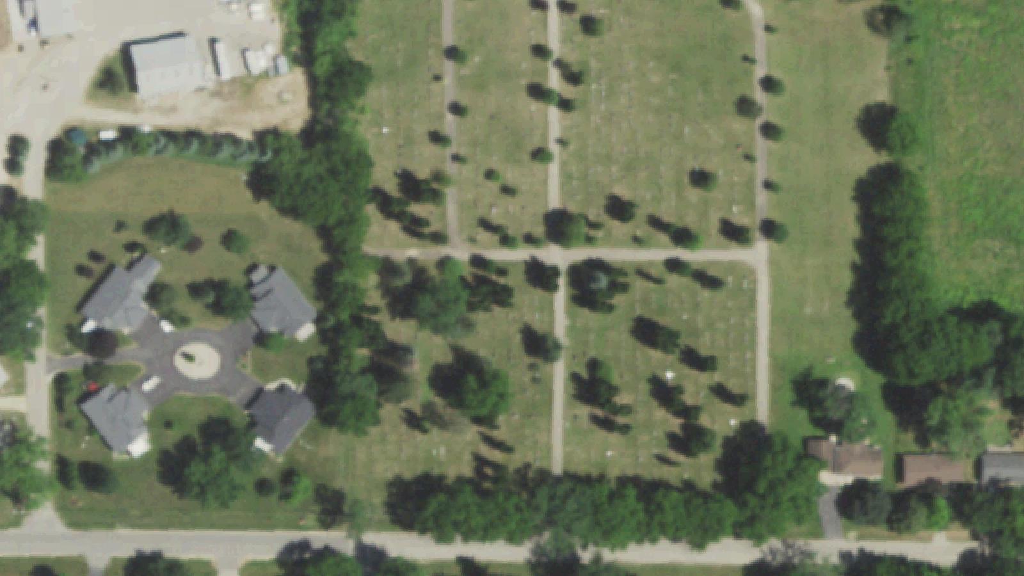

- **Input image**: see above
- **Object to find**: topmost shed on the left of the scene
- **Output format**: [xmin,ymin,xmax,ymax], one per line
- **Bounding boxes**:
[36,0,87,35]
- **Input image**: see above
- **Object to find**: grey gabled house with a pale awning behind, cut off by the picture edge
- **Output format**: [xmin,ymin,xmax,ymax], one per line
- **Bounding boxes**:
[980,446,1024,483]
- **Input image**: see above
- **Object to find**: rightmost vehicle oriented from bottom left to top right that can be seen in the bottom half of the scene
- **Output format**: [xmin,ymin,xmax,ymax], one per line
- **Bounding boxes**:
[142,377,161,393]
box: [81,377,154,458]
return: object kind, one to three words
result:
house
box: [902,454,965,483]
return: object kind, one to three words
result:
house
